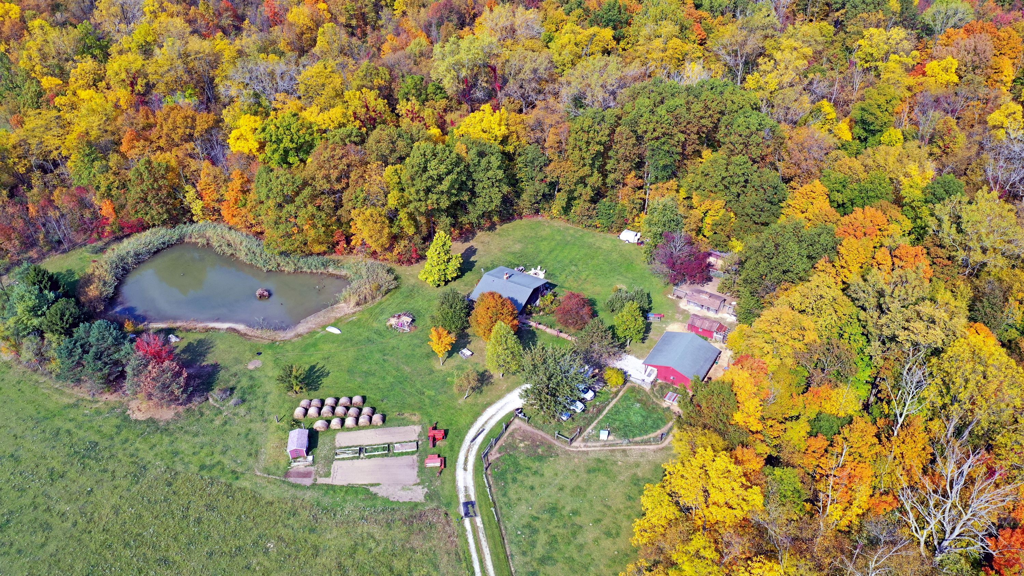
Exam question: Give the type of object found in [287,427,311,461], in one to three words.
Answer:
shed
